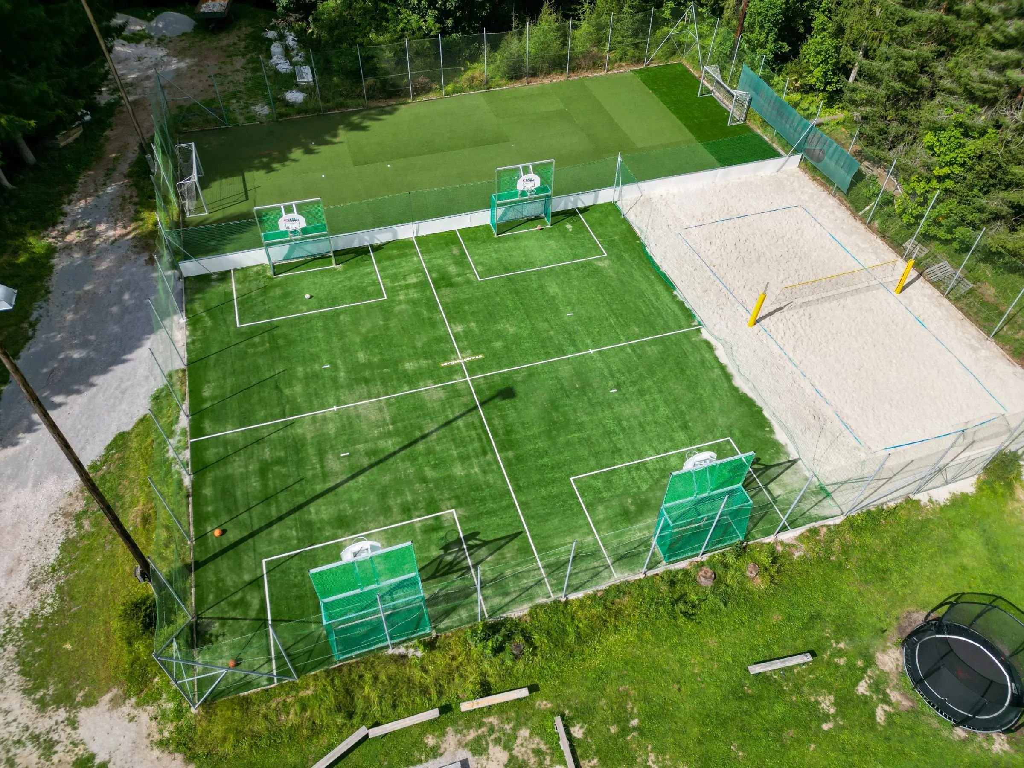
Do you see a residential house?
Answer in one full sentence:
No, there appears to be no residential house in this shot.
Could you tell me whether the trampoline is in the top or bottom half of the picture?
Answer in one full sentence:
The bottom half of the photo is where the trampoline is.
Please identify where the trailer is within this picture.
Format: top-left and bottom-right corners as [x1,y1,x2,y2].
[193,0,238,33]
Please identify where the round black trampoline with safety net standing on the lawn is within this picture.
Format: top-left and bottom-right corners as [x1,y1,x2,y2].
[894,600,1024,738]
